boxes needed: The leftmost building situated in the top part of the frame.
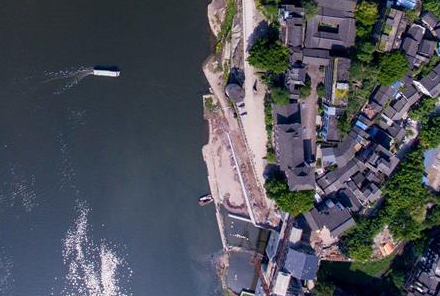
[225,82,244,102]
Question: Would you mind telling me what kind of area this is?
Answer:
residential area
